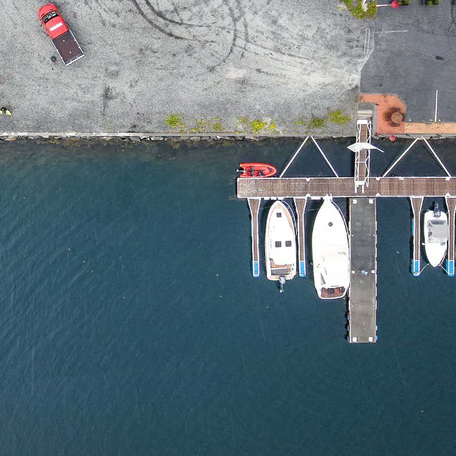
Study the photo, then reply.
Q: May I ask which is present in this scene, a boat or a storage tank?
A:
boat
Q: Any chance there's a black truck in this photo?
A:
No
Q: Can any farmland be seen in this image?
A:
No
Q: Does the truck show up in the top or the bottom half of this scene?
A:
top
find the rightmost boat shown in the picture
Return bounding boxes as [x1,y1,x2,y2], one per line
[420,203,447,267]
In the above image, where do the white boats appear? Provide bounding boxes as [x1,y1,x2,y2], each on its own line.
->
[263,202,296,291]
[311,195,353,299]
[420,203,447,267]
